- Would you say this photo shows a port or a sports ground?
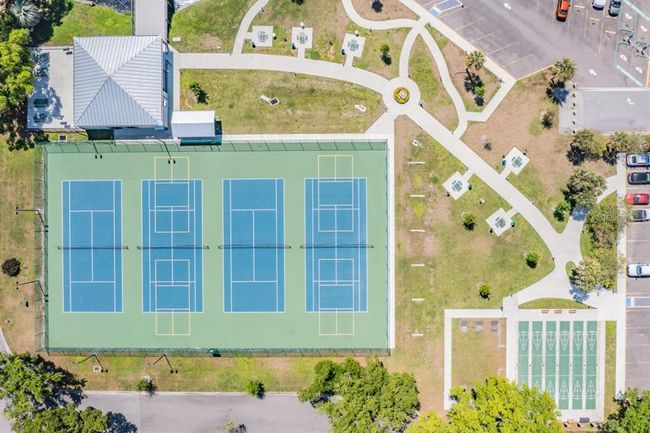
sports ground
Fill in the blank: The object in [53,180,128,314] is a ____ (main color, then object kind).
blue tennis court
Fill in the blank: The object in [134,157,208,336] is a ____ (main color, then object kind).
blue tennis court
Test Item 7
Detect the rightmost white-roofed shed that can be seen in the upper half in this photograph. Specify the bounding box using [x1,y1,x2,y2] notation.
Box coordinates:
[171,110,220,145]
